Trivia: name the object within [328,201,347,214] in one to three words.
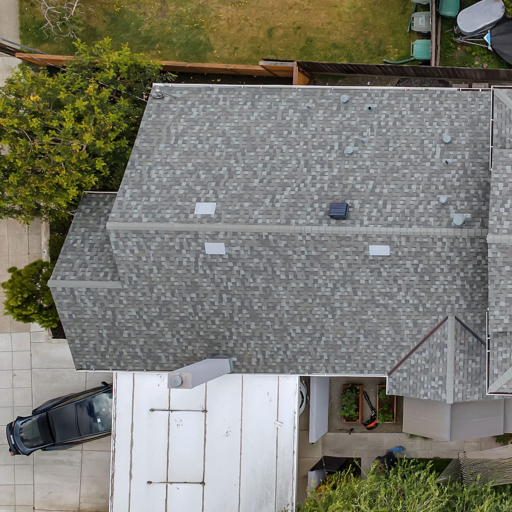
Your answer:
solar panel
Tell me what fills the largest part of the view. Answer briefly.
buildings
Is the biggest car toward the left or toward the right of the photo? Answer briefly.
left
